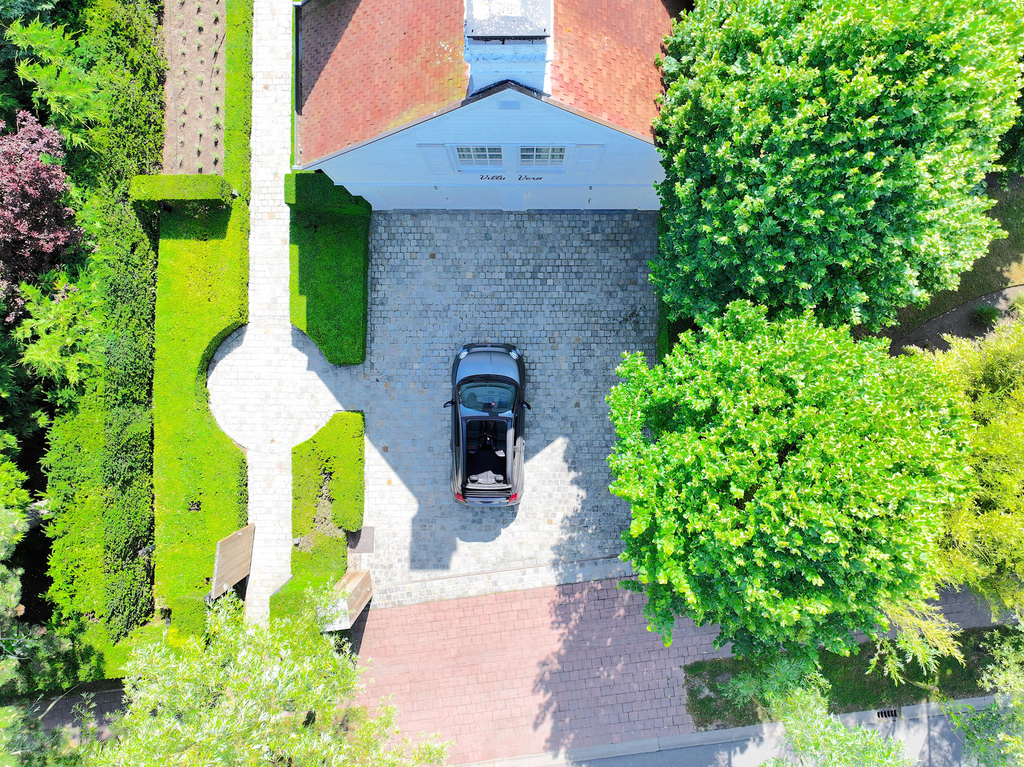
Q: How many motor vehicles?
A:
one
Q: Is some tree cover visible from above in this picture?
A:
Yes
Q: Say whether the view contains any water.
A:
No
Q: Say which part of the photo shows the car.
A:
center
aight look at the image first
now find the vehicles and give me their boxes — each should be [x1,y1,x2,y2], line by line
[442,343,532,508]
